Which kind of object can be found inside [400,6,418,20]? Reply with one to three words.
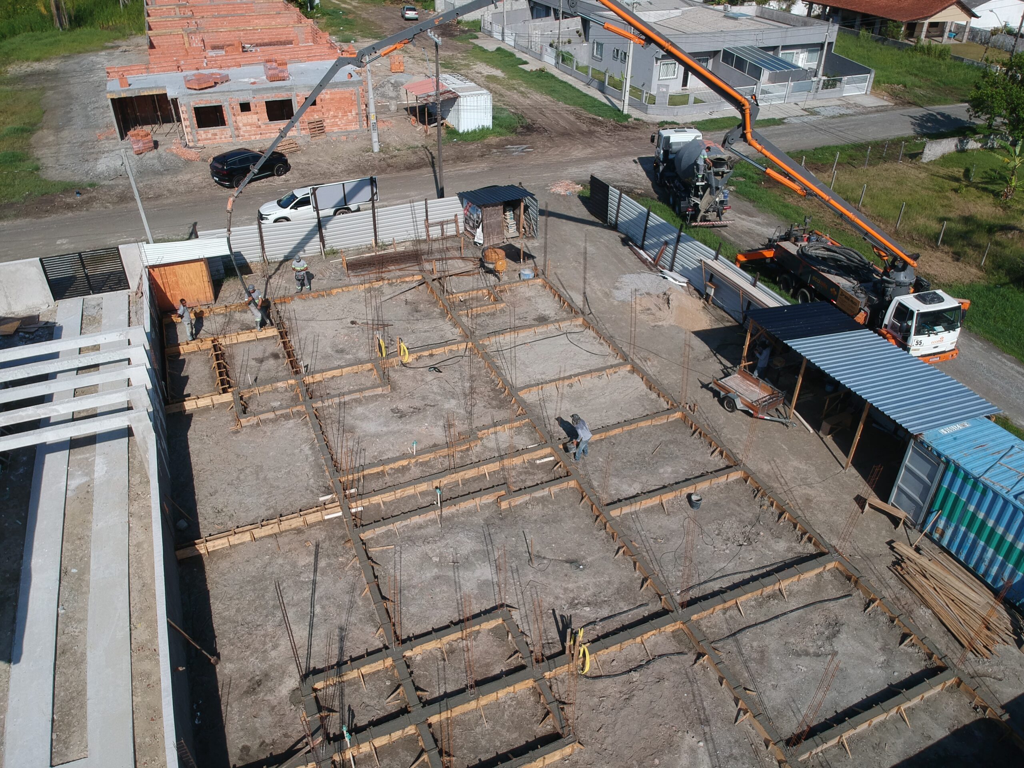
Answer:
car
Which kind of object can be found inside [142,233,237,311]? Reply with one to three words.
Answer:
shed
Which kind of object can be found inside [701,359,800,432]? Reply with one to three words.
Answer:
trailer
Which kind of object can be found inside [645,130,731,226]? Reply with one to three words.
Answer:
truck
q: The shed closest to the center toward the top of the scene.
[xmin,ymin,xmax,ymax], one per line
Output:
[458,184,534,246]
